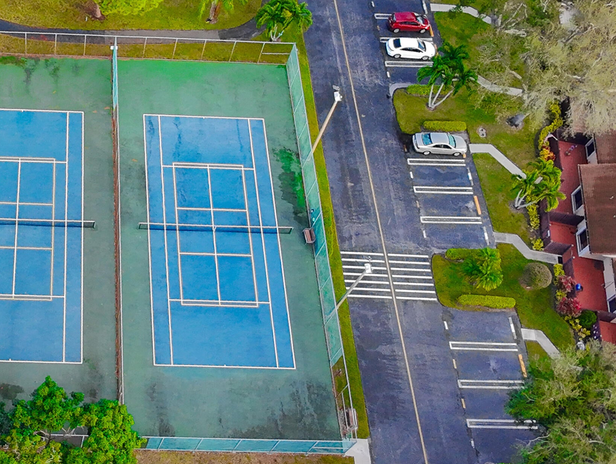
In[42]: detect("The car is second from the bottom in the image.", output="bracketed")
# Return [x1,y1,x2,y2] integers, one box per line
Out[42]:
[387,35,437,59]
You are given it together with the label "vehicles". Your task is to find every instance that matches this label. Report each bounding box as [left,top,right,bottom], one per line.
[388,11,431,33]
[387,35,437,59]
[415,131,469,155]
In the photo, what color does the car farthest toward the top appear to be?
red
